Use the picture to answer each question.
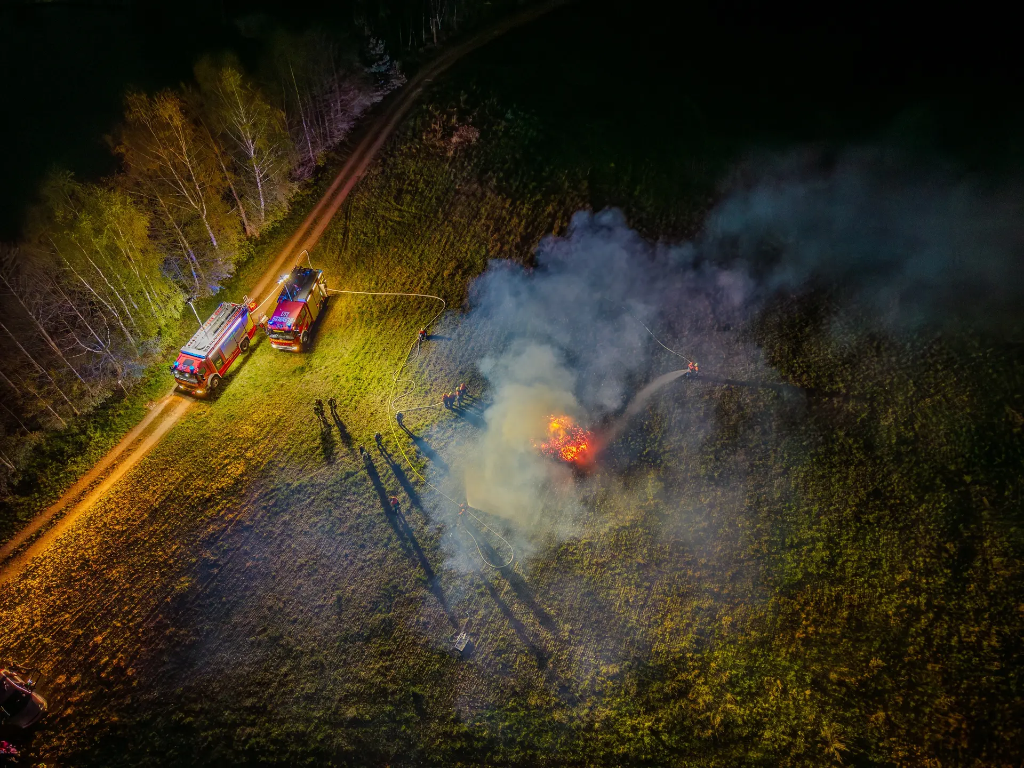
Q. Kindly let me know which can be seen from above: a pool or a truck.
truck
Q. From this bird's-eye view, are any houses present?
No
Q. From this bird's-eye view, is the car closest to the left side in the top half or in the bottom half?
bottom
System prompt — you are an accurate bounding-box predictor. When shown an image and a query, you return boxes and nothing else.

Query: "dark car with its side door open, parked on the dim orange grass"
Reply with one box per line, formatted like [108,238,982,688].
[0,665,53,730]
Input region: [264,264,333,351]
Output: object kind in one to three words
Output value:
truck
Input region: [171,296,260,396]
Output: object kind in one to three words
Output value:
truck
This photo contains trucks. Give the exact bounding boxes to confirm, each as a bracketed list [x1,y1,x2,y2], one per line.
[264,264,333,351]
[171,296,260,396]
